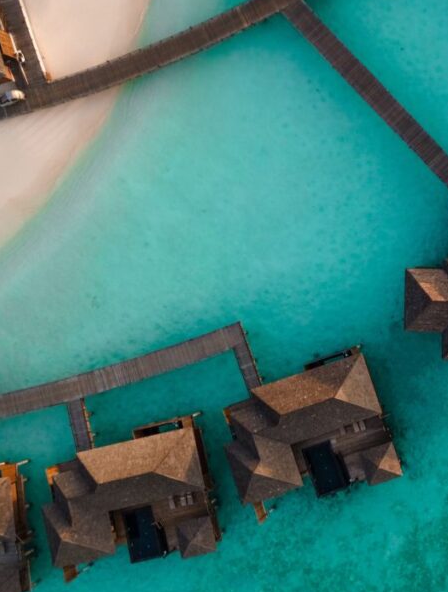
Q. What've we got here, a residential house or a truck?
residential house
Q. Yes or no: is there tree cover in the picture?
No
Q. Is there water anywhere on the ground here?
Yes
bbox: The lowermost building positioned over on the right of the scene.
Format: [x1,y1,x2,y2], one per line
[219,343,403,518]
